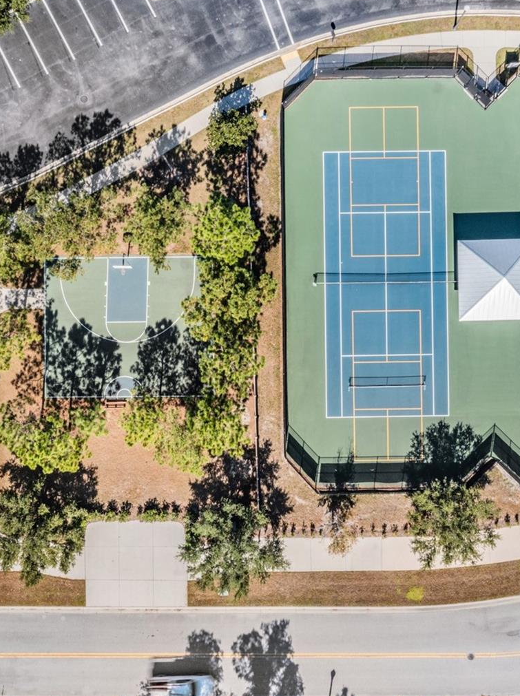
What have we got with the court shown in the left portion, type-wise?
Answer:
basketball court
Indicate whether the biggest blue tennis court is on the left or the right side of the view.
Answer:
right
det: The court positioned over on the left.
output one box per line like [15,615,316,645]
[44,254,212,398]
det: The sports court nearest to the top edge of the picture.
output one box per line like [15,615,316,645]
[349,106,421,256]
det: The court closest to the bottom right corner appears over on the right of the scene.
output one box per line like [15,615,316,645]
[352,310,423,460]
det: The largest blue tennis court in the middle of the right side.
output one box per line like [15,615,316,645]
[323,150,449,418]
